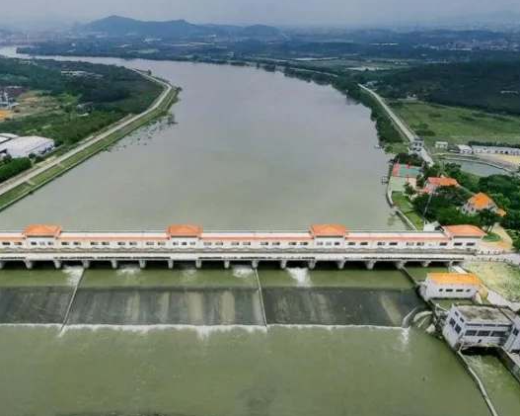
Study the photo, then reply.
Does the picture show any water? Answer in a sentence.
Yes, some water is visible.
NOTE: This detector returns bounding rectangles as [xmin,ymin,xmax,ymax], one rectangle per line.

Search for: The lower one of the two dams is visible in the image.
[0,290,421,326]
